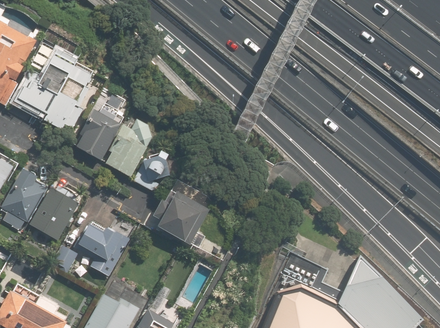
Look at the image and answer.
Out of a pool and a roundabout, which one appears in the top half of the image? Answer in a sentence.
Visible in the top half of the image is a pool.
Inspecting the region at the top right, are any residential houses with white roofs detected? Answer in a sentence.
No, I can find no residential house with a white roof at the top right.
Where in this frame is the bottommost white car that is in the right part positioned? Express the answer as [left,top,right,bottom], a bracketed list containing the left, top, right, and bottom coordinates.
[323,118,338,130]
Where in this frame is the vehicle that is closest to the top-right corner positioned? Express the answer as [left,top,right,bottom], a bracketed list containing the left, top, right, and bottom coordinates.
[374,2,388,15]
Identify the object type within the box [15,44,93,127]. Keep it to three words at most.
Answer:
house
